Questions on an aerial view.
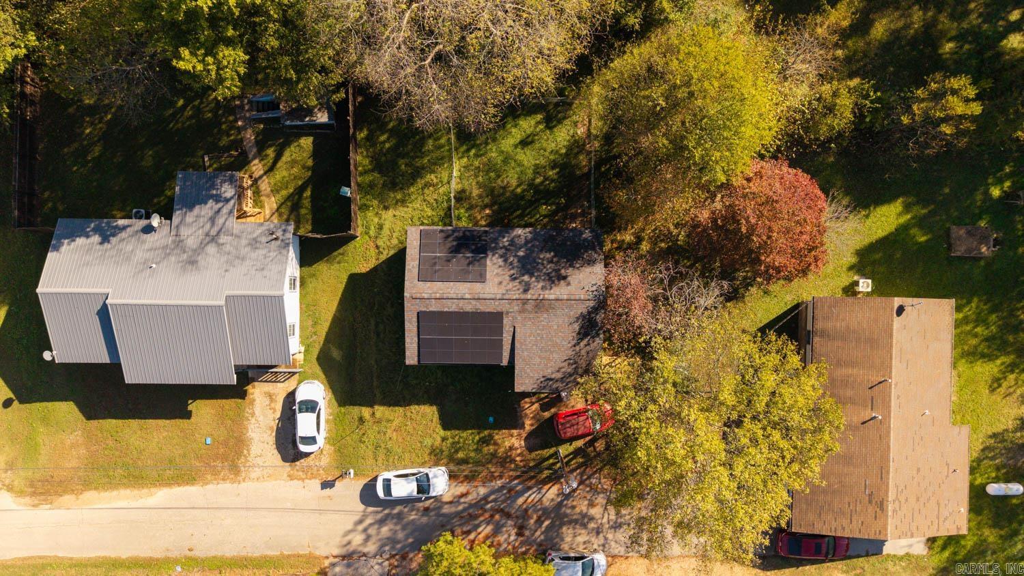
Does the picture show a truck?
No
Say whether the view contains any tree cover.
Yes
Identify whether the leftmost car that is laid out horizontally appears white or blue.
white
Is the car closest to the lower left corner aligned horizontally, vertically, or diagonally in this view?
vertically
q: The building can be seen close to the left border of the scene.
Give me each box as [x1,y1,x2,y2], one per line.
[37,171,310,384]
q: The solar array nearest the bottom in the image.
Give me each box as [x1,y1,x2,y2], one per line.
[418,312,503,364]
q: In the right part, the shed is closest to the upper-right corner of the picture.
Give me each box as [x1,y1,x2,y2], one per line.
[943,226,994,257]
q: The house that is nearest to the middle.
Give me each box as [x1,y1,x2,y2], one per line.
[404,226,604,393]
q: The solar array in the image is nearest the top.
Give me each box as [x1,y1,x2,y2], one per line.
[418,228,487,280]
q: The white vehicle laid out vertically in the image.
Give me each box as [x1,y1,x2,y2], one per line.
[294,378,328,453]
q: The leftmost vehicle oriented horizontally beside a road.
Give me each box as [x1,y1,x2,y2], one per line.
[376,465,450,499]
